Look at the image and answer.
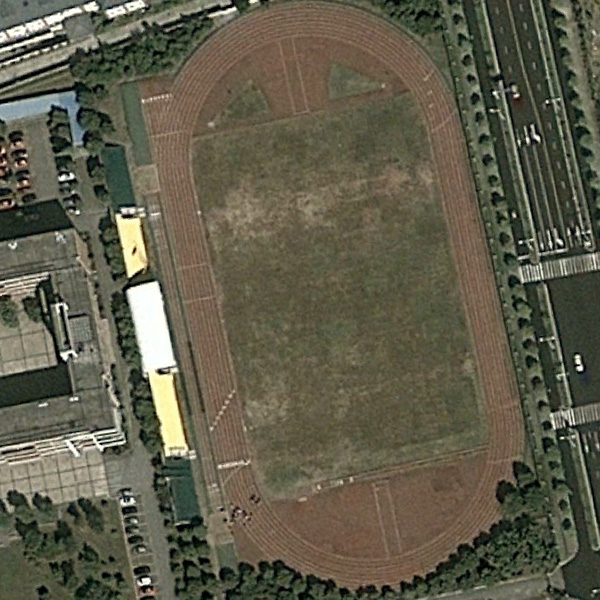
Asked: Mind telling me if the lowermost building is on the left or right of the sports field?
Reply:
to the left of it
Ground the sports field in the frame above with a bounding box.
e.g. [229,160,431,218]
[193,94,489,501]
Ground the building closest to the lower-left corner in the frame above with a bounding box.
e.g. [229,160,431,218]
[0,227,130,473]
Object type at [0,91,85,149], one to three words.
shed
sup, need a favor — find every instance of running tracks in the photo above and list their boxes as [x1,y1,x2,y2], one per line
[141,0,527,592]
